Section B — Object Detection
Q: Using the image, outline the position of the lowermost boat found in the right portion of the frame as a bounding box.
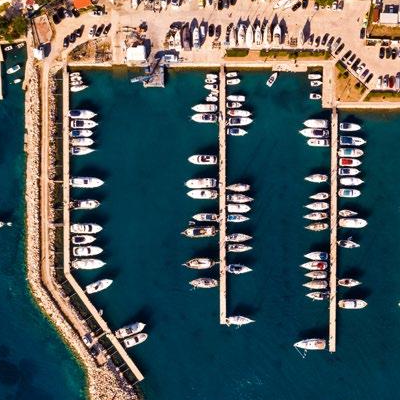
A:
[293,338,326,357]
